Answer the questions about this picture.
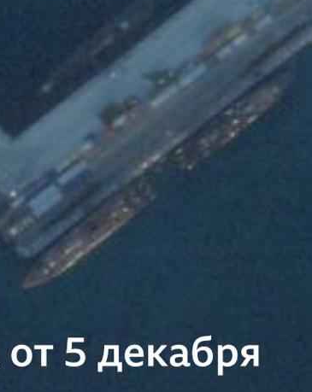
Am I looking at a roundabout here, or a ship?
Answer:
ship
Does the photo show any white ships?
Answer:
No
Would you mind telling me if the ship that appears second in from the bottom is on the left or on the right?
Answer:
right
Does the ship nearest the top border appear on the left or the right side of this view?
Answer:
left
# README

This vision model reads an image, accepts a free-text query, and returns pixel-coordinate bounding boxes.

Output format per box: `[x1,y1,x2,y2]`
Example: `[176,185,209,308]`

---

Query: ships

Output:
[25,174,163,286]
[41,0,155,95]
[171,73,294,173]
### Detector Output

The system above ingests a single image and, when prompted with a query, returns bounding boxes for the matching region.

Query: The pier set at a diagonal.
[14,0,311,256]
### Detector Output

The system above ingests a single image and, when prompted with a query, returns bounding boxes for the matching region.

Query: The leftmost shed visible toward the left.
[29,184,64,216]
